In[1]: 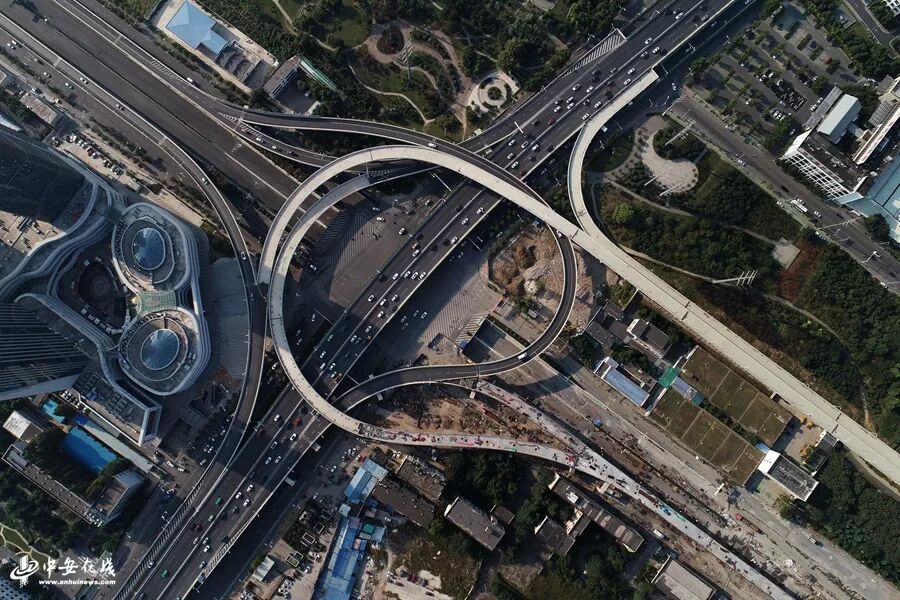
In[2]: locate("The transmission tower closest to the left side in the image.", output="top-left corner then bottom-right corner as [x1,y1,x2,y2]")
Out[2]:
[396,51,414,83]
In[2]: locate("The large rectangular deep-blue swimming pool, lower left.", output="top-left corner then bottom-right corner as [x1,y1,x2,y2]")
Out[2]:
[62,427,118,474]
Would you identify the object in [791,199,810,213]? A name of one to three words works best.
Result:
vehicle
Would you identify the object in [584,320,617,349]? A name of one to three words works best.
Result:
house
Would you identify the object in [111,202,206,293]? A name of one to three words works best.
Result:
building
